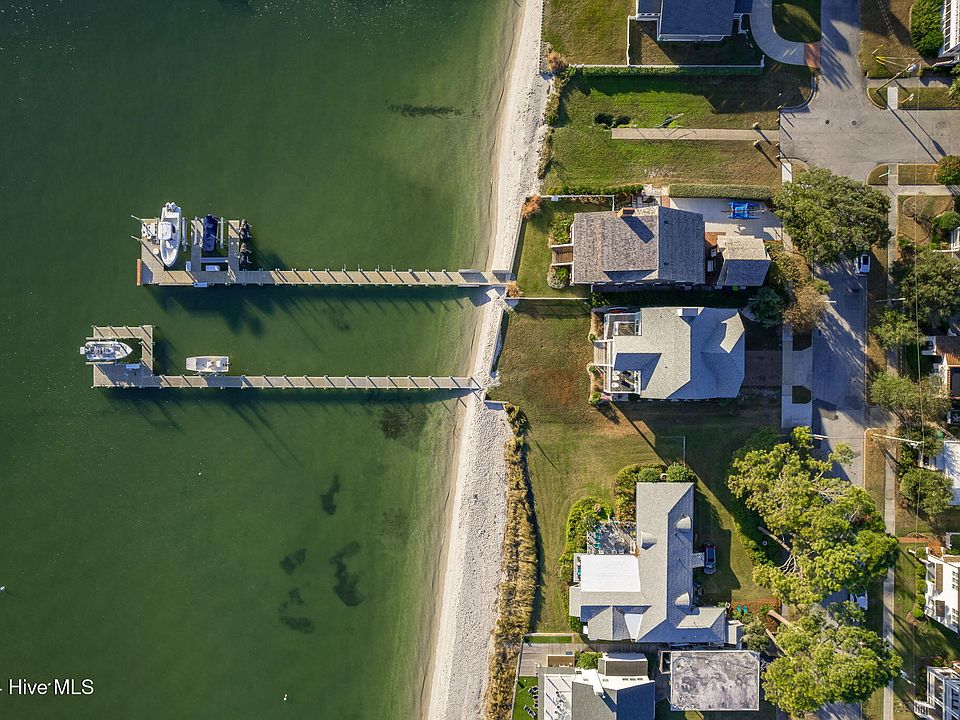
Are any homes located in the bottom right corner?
Yes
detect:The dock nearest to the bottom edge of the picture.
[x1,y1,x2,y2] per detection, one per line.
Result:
[90,325,479,390]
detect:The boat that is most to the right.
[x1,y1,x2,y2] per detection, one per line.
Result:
[724,202,768,218]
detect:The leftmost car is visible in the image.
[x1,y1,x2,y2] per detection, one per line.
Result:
[700,541,717,574]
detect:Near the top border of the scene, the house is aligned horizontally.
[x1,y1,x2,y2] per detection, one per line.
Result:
[636,0,753,50]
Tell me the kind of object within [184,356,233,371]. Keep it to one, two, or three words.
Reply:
boat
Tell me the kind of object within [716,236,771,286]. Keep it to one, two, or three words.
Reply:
building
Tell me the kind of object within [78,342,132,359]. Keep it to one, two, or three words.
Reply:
boat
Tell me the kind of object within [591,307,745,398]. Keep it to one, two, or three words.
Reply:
house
